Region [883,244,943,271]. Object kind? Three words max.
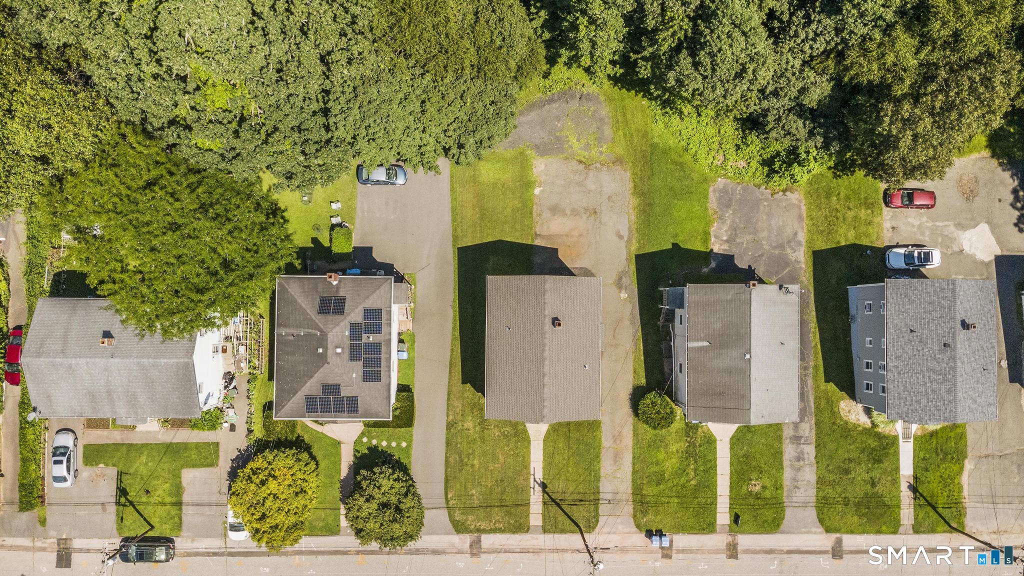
car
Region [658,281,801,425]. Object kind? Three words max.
house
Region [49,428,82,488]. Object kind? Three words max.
car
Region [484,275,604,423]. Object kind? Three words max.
house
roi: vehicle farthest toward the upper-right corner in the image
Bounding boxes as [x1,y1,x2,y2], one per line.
[881,186,938,212]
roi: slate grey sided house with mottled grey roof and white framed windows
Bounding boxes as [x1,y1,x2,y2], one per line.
[847,278,999,423]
